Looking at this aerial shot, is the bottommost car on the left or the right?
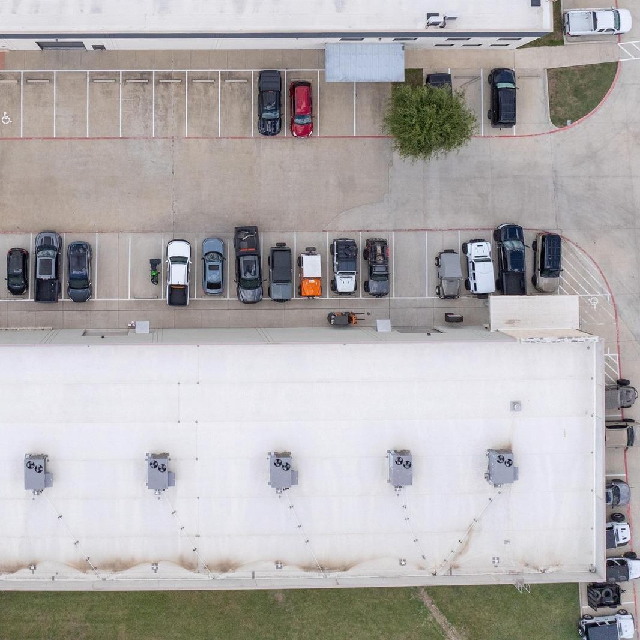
right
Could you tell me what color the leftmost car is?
black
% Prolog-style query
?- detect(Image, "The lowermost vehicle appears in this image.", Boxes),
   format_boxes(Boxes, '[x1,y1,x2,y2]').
[573,611,636,640]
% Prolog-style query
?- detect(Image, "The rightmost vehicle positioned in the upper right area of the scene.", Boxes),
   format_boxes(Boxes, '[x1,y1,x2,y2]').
[558,7,632,37]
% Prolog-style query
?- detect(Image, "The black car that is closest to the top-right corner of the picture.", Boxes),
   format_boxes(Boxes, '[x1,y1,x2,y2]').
[488,68,520,128]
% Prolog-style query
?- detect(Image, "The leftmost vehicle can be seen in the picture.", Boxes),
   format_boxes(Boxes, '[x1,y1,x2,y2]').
[4,246,30,295]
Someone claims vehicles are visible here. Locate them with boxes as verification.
[65,240,94,303]
[490,221,527,295]
[288,80,316,138]
[573,611,636,640]
[199,237,227,295]
[558,7,632,37]
[4,246,30,295]
[432,245,462,299]
[605,512,633,546]
[149,258,161,285]
[256,70,285,137]
[325,311,364,328]
[233,225,265,304]
[31,228,64,301]
[604,420,640,451]
[267,243,294,303]
[461,235,494,298]
[606,551,640,584]
[605,479,632,509]
[330,237,358,294]
[297,246,323,298]
[364,235,390,294]
[531,232,564,293]
[603,381,638,411]
[488,68,520,128]
[163,237,192,306]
